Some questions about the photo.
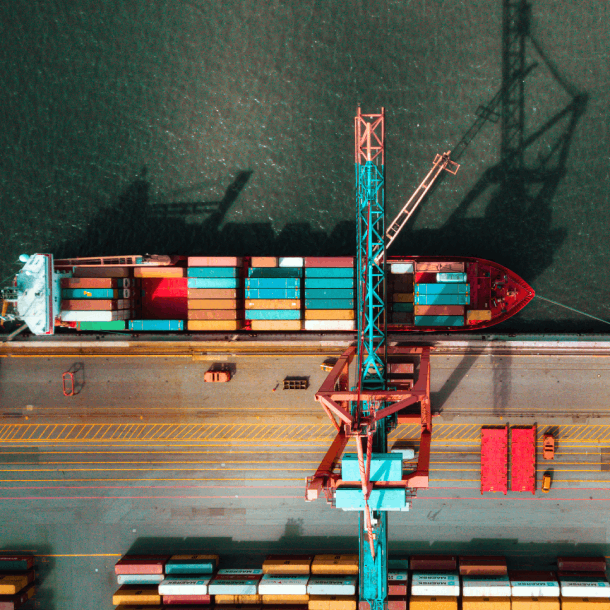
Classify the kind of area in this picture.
port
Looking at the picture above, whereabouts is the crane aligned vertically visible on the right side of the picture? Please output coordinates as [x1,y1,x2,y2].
[306,105,438,610]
